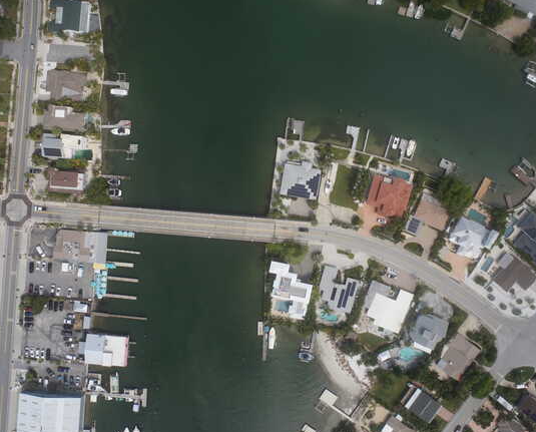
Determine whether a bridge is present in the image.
Yes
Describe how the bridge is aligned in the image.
horizontally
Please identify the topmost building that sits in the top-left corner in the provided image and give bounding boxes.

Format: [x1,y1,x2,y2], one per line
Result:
[48,0,92,35]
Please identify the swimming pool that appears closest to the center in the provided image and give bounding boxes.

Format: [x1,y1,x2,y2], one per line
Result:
[275,299,293,313]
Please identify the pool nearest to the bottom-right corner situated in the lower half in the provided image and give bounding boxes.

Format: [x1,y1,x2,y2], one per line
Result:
[398,347,425,363]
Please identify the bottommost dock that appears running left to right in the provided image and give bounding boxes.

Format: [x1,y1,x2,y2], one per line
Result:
[84,388,148,407]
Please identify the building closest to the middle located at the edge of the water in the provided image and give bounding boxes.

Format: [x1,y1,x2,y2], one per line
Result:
[280,161,320,200]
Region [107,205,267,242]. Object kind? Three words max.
bridge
